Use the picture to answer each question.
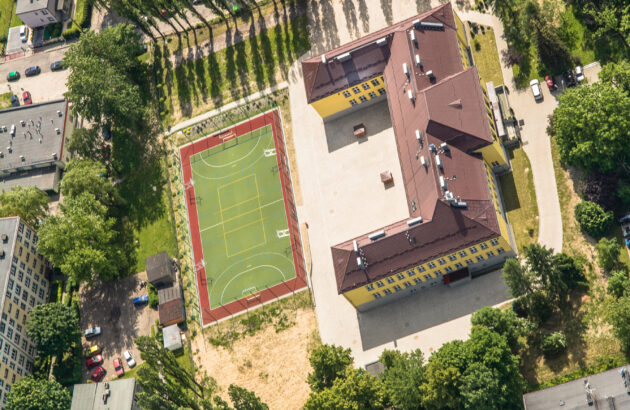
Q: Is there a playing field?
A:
Yes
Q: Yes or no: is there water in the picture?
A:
No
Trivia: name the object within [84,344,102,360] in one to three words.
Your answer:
vehicle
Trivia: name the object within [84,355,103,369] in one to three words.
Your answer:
car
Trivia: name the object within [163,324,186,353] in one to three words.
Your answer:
shed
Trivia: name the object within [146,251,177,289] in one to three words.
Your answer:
shed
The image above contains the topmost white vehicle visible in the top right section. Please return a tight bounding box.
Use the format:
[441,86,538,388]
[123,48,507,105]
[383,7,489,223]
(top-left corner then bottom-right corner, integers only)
[573,64,586,83]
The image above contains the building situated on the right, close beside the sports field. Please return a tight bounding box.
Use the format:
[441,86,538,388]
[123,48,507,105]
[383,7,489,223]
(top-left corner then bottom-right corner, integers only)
[301,2,519,314]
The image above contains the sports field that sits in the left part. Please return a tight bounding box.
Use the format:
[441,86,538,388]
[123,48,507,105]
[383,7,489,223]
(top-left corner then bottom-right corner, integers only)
[179,107,310,328]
